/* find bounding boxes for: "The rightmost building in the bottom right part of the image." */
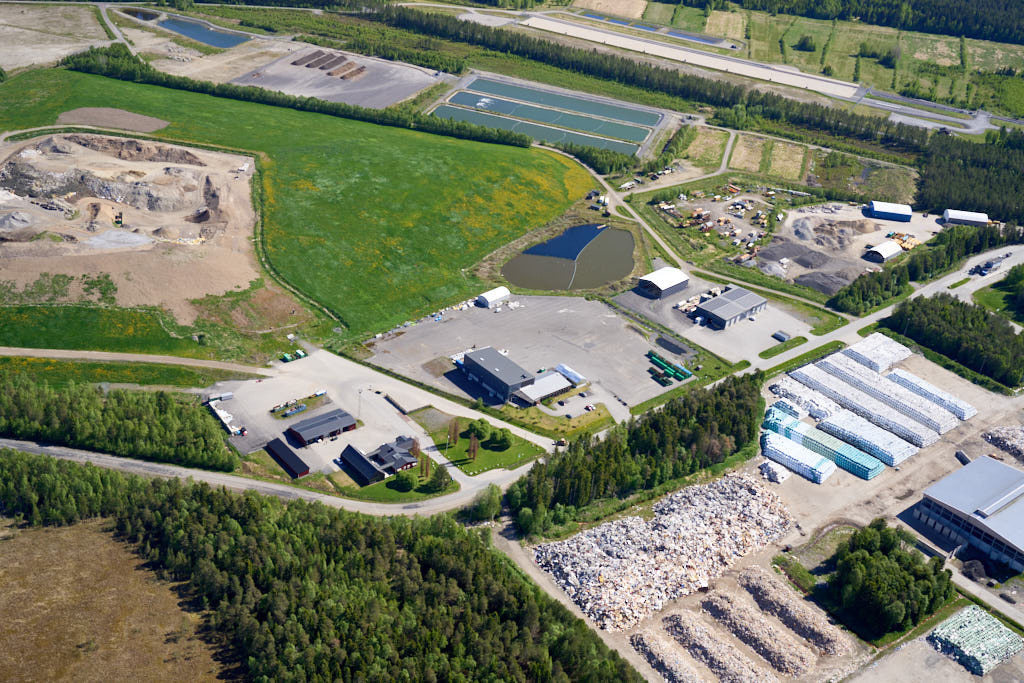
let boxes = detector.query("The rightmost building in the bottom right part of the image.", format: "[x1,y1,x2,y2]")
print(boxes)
[919,453,1024,569]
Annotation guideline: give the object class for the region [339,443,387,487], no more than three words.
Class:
barn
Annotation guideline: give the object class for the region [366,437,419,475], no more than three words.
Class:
house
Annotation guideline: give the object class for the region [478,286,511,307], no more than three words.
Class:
shed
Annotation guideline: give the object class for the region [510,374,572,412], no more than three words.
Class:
building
